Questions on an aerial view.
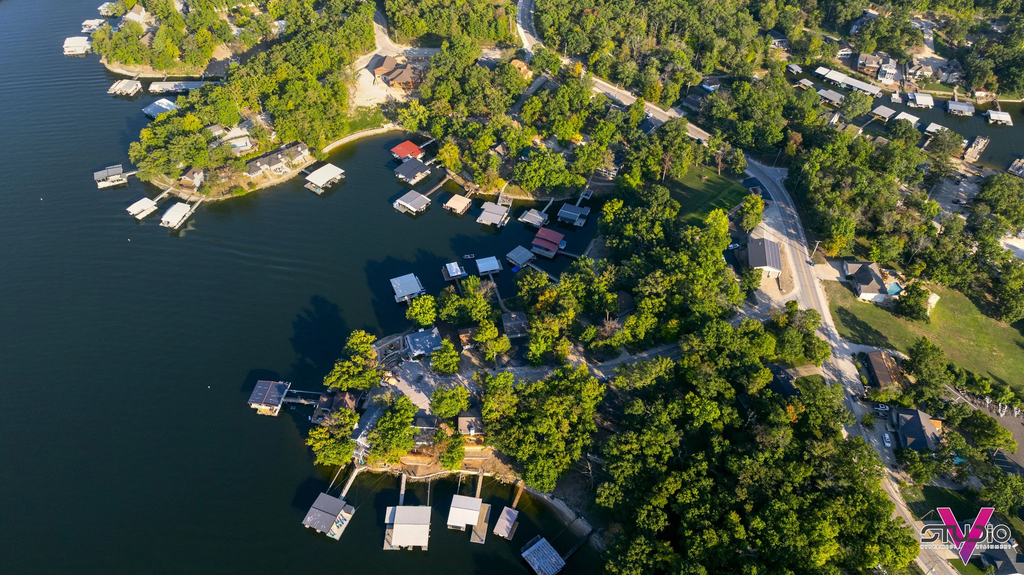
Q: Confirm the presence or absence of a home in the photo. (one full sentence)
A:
Yes, this view includes a home.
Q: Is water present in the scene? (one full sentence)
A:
Yes, some water is visible.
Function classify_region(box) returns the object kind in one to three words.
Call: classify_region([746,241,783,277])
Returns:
building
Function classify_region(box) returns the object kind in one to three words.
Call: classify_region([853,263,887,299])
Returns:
house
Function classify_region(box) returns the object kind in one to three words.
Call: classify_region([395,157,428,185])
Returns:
pier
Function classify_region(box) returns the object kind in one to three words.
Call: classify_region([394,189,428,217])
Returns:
pier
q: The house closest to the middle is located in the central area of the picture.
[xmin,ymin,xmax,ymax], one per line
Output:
[502,311,529,340]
